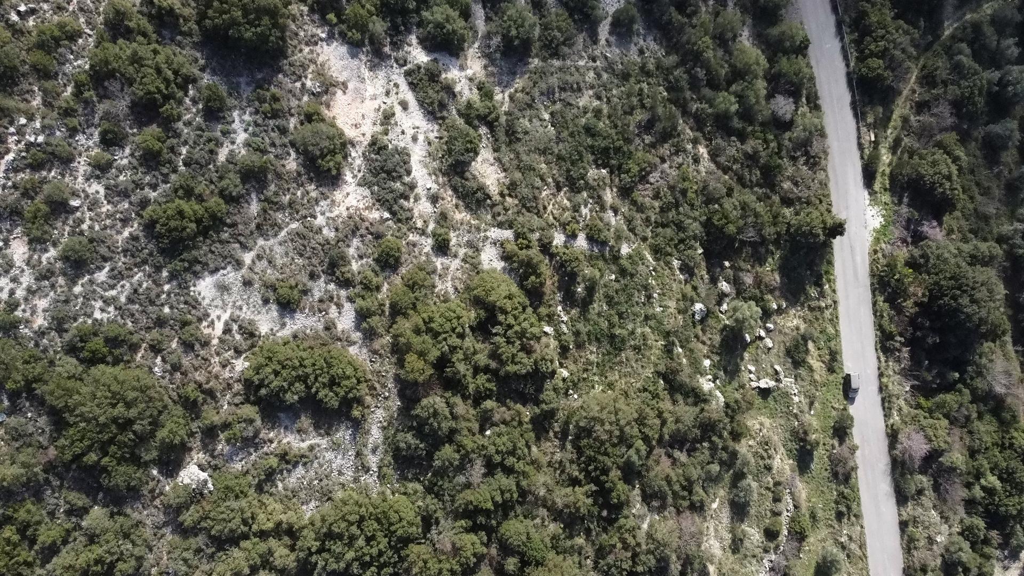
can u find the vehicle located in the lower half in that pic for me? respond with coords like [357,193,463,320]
[846,372,861,399]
